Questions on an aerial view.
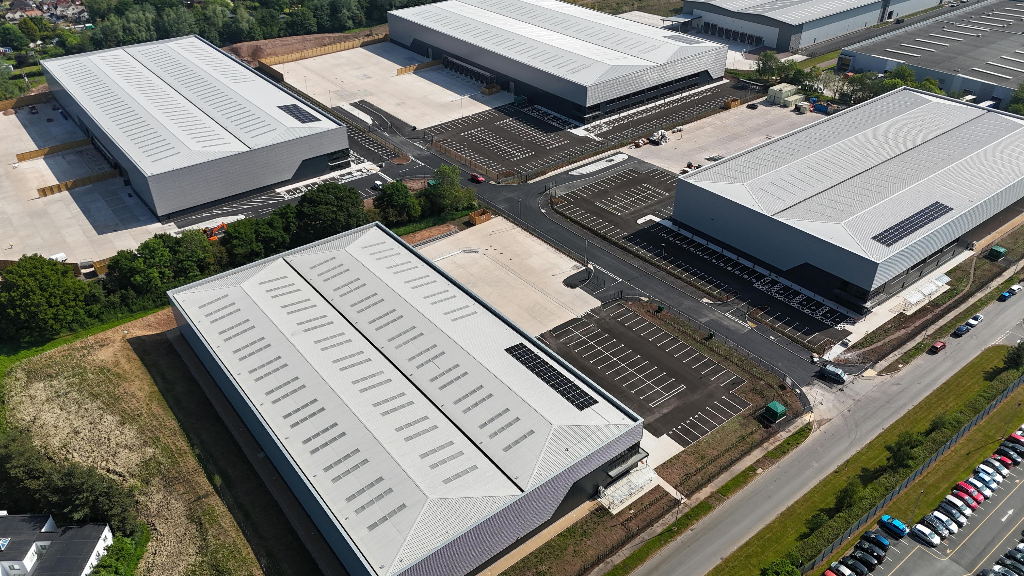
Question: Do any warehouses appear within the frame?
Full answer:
Yes, a warehouse appears in the view.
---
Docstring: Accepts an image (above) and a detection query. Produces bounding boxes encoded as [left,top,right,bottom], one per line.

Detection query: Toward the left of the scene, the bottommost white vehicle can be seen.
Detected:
[48,250,69,263]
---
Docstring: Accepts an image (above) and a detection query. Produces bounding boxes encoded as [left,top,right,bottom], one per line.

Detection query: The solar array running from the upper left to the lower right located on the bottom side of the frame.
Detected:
[504,344,599,410]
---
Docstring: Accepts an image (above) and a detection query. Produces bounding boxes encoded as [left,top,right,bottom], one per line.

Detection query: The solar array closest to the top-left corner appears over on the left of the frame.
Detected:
[277,104,320,122]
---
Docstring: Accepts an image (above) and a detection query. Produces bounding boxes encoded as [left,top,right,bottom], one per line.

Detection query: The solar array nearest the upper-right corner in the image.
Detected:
[871,200,953,247]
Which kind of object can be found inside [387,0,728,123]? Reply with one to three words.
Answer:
warehouse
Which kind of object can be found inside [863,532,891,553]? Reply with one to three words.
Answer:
car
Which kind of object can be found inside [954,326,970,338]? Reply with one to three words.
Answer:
vehicle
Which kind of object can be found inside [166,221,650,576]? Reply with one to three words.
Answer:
warehouse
